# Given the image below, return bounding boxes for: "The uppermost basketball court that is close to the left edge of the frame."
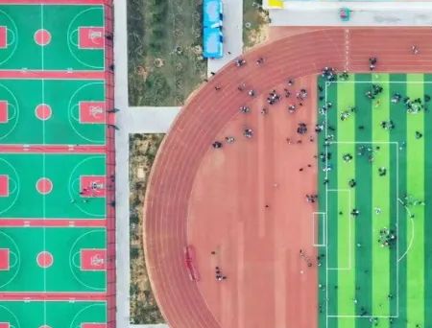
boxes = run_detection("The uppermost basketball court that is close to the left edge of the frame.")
[0,4,104,71]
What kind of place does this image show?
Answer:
sports ground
